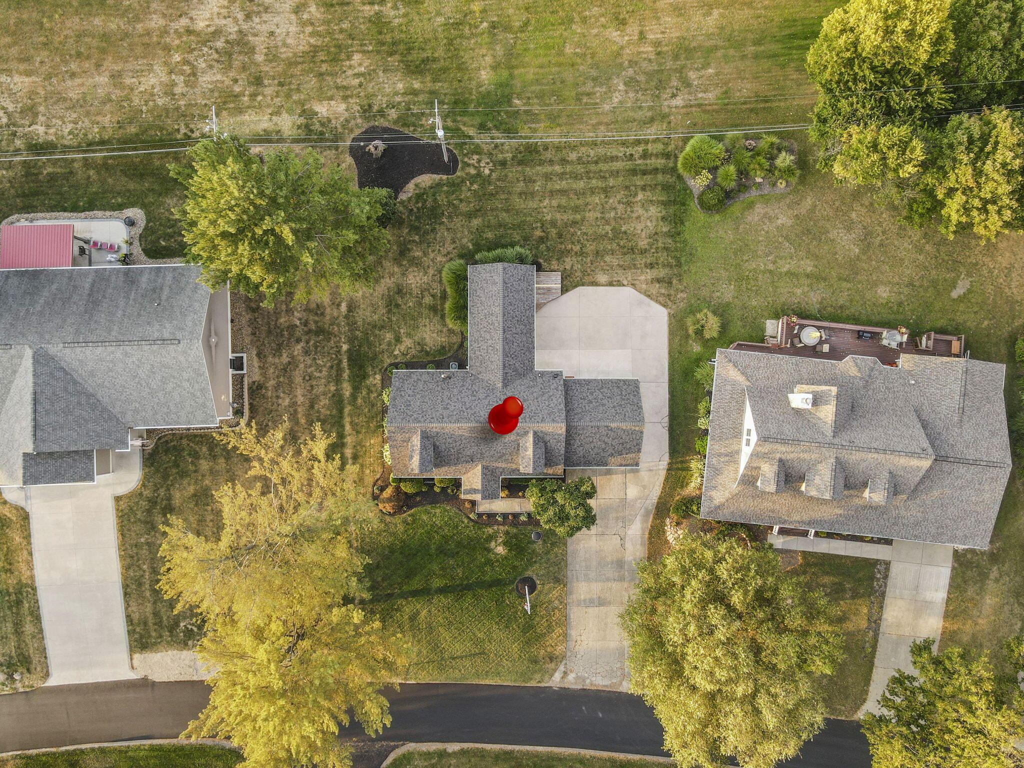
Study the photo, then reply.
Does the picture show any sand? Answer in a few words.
No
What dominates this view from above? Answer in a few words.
grass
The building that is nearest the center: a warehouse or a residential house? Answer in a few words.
residential house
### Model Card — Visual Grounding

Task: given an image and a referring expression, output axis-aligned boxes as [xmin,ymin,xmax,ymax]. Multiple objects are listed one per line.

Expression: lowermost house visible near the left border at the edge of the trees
[0,263,248,489]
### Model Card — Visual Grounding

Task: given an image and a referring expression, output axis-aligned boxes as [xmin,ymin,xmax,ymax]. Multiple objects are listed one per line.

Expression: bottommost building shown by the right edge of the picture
[699,348,1012,550]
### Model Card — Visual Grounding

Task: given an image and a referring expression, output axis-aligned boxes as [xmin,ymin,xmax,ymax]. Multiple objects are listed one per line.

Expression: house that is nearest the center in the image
[386,262,644,501]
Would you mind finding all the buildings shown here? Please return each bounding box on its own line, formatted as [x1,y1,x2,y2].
[386,262,644,501]
[0,263,248,489]
[699,348,1012,550]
